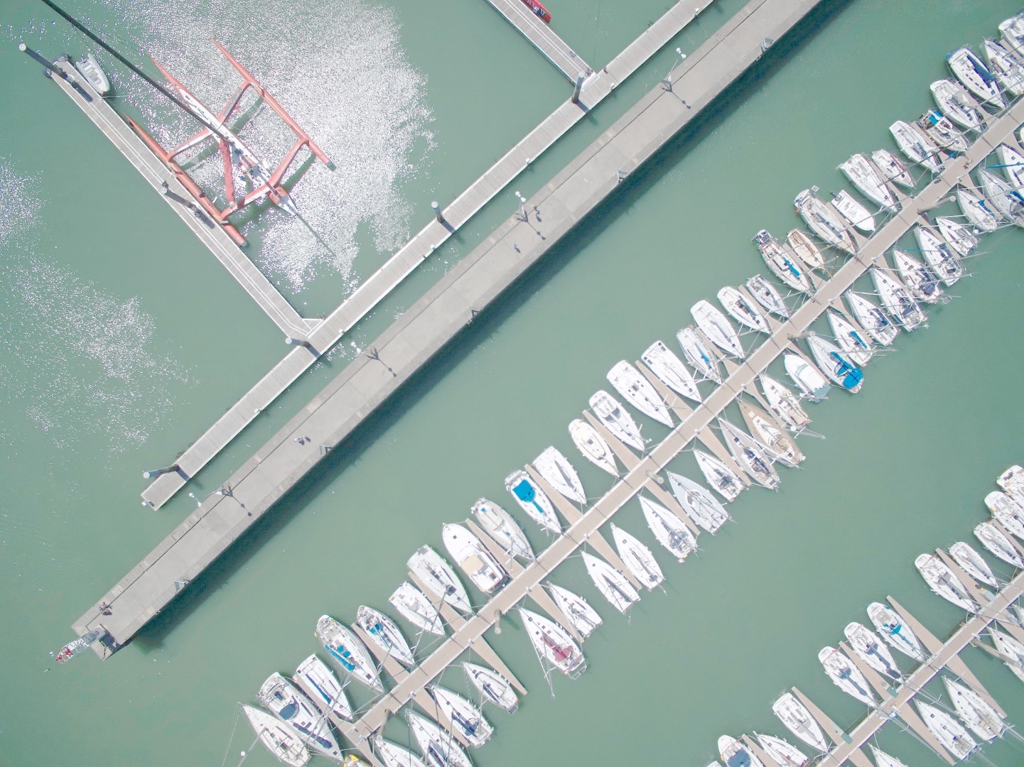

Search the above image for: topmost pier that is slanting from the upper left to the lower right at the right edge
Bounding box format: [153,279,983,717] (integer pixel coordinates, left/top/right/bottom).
[953,82,1001,130]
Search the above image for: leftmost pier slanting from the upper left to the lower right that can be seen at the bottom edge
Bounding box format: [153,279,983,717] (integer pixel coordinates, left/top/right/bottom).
[293,674,350,734]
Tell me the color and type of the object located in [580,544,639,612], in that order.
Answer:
white boat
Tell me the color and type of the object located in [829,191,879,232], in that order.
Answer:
white boat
